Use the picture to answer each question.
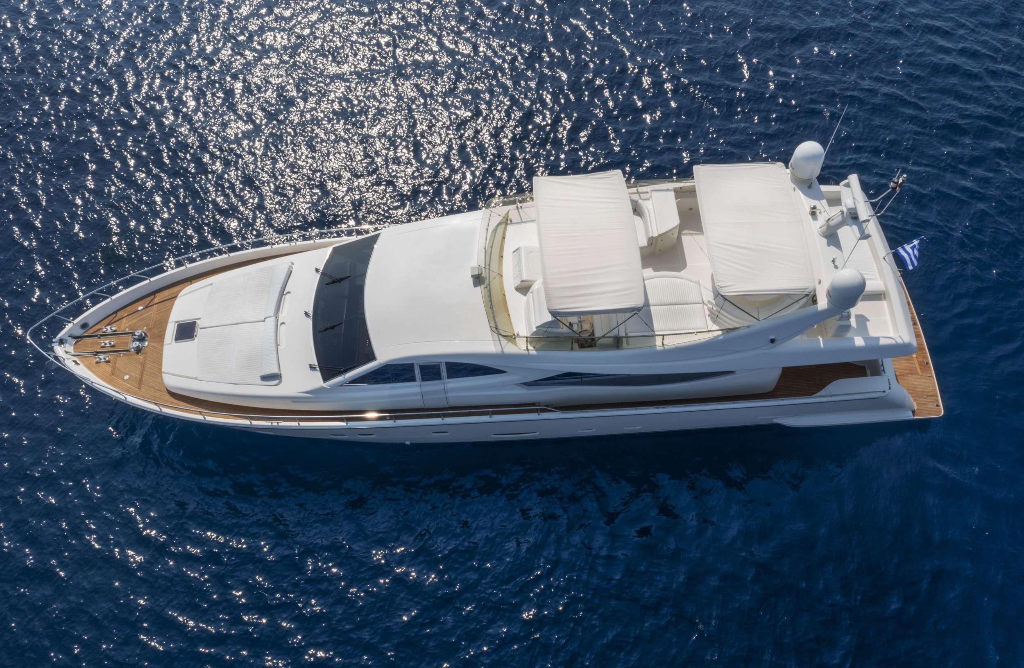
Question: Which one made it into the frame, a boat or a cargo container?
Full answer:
I can see a boat in this picture.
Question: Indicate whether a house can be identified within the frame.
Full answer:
No, there is no house in the image.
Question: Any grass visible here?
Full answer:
No, there is no grass in the image.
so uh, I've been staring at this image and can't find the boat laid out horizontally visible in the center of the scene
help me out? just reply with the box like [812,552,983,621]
[26,104,943,443]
